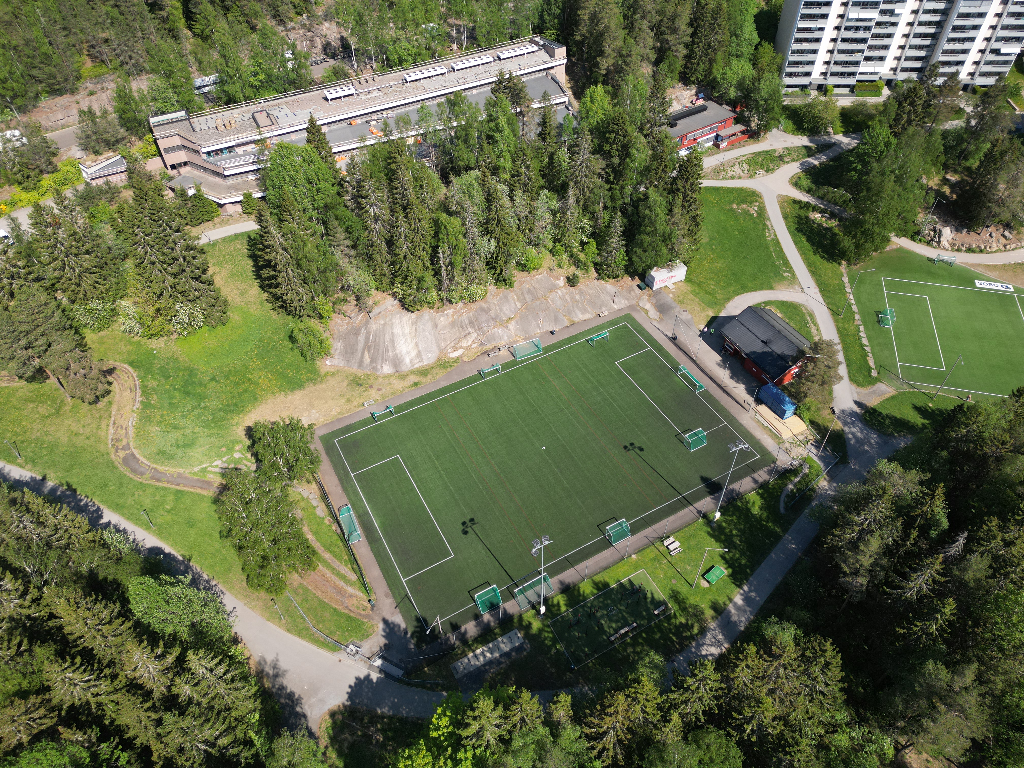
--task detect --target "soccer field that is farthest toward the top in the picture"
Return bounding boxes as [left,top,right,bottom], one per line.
[848,247,1024,406]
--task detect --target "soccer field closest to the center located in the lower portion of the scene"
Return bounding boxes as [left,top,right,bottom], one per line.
[319,313,777,650]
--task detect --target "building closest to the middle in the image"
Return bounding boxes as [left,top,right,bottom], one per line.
[649,264,687,292]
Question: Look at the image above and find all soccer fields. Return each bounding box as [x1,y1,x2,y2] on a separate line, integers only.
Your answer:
[319,313,777,650]
[848,247,1024,406]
